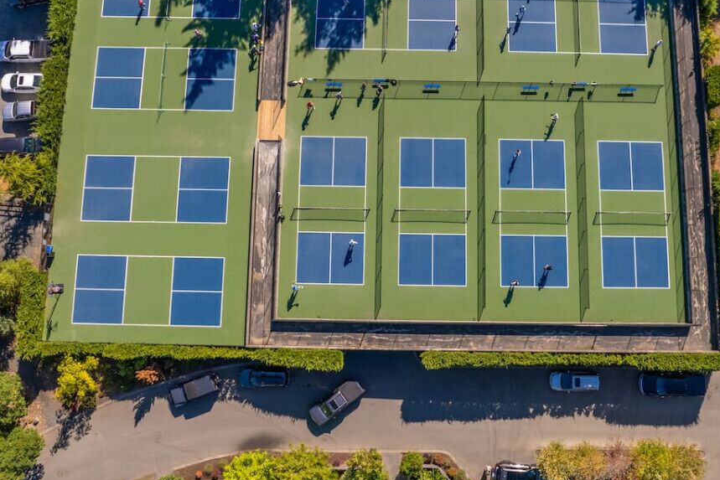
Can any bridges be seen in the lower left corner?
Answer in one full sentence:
No, there's no bridge to be seen in the lower left corner.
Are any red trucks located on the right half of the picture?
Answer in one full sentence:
No, I can find no red truck on the right half of the picture.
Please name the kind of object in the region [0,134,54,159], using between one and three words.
truck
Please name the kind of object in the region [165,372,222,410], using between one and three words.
truck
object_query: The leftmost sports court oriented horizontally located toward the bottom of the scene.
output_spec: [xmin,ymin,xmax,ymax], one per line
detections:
[71,255,225,325]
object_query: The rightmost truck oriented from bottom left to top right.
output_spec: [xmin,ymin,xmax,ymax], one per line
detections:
[305,377,369,428]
